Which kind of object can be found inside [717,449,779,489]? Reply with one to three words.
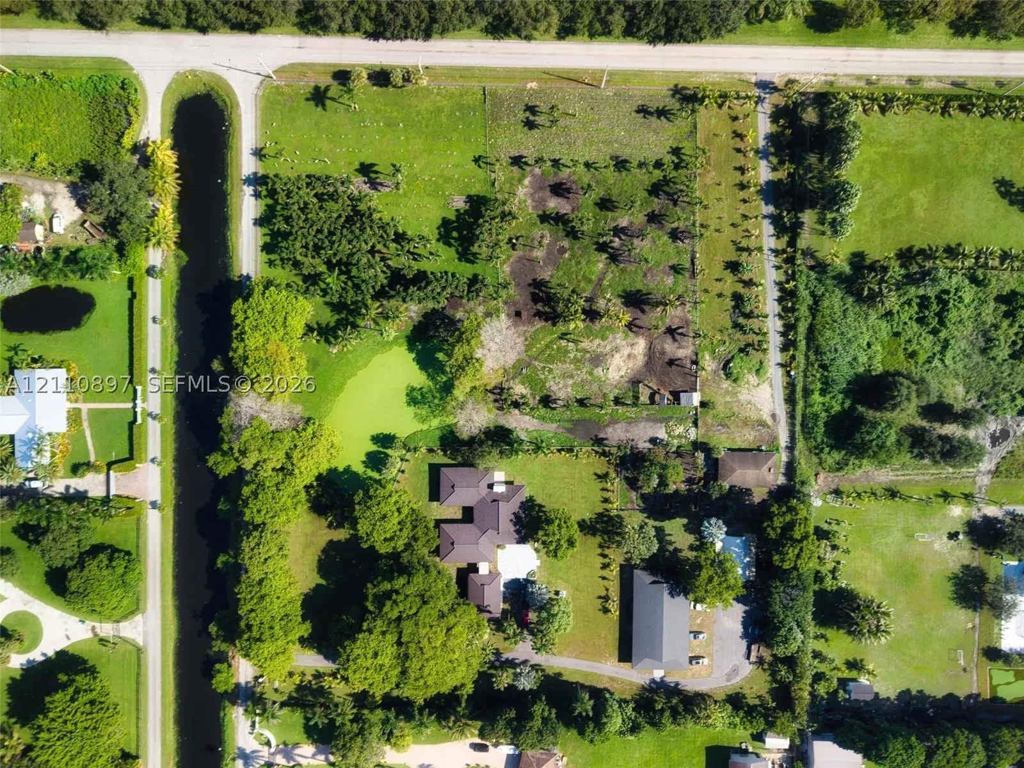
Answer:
house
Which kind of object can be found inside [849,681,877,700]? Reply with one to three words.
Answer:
shed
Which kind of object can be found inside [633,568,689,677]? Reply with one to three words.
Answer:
barn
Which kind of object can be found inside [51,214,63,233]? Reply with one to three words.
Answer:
vehicle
